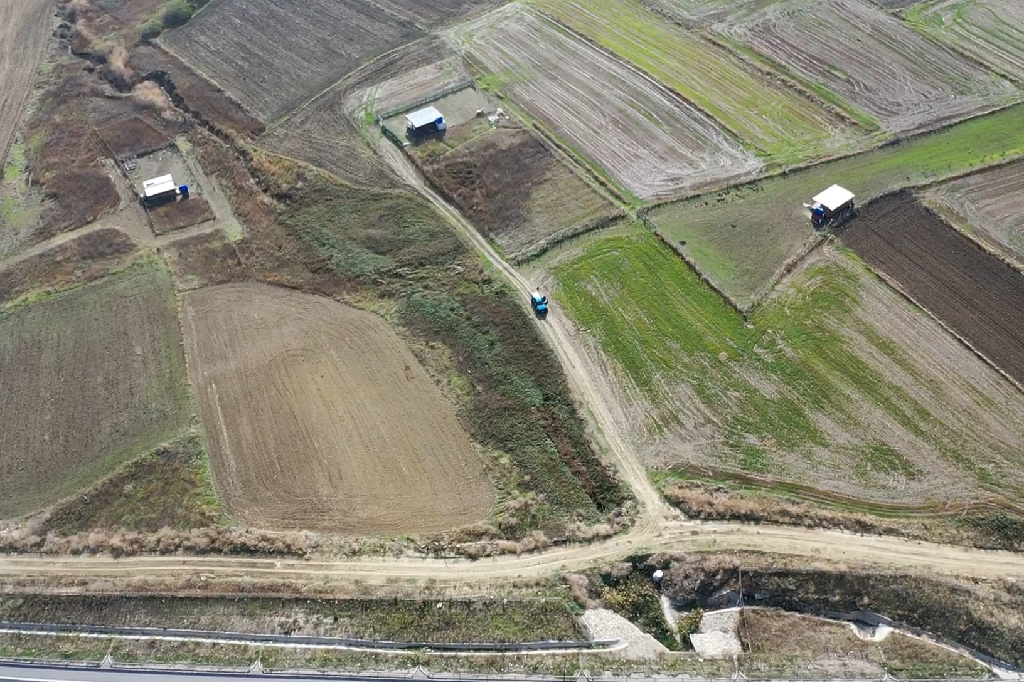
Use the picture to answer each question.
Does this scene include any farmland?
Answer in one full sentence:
Yes, there's farmland in this view.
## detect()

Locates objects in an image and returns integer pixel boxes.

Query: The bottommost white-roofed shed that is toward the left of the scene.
[143,174,177,205]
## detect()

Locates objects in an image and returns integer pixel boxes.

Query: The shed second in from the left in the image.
[406,105,443,137]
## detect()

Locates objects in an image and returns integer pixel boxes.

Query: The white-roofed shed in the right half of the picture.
[810,184,855,222]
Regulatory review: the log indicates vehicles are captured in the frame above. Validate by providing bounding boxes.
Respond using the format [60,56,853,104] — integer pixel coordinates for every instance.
[530,287,550,317]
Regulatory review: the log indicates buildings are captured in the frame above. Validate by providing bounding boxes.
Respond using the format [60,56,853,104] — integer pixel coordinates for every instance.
[810,184,855,222]
[143,174,177,205]
[406,105,443,137]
